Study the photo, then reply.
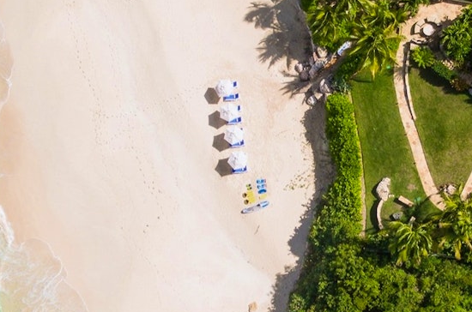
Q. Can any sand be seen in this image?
Yes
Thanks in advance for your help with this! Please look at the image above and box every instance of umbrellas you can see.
[219,102,238,121]
[216,80,237,98]
[224,126,243,145]
[229,149,247,169]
